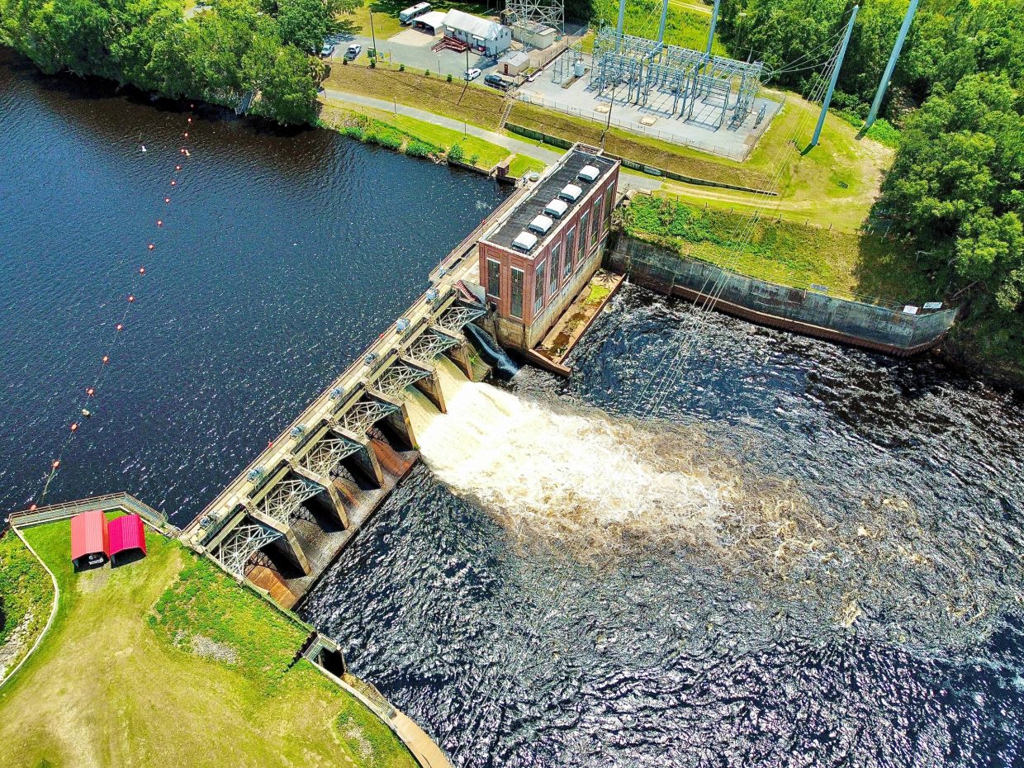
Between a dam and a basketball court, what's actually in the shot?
dam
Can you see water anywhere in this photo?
Yes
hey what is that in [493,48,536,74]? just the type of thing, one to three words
shed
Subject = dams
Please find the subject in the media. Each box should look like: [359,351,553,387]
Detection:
[175,281,501,613]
